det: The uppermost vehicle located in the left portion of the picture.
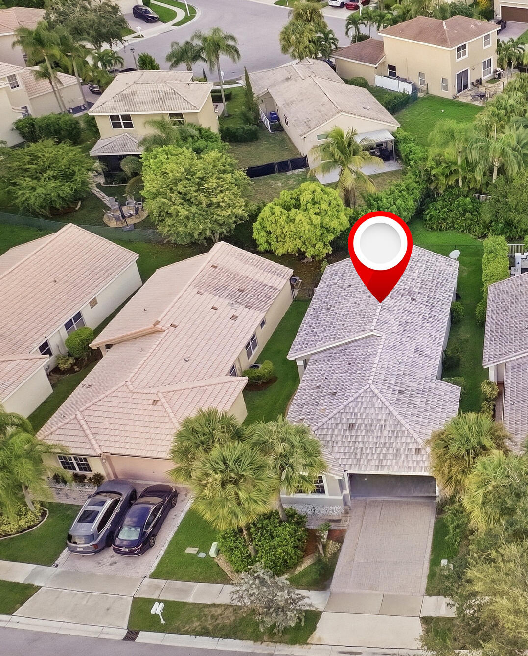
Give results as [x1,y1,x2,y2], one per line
[135,8,159,23]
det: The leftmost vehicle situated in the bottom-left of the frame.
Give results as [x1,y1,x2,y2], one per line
[61,480,133,550]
